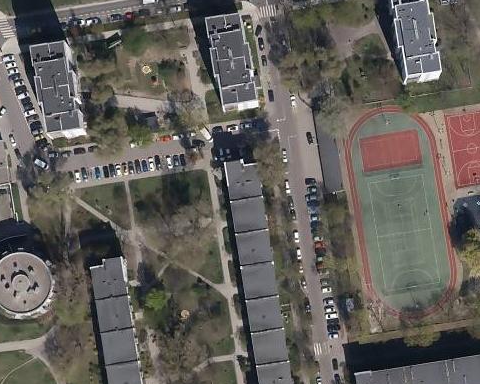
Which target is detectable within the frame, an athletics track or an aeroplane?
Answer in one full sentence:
The image shows an athletics track.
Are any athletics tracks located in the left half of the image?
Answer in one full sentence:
No, in the left half of the image there is no athletics track.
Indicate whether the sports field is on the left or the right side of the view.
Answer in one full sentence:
It is on the right.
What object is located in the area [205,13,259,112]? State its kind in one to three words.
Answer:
building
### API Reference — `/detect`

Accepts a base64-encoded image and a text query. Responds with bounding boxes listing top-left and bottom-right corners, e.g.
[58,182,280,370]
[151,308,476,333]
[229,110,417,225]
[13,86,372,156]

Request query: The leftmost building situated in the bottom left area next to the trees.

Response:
[0,251,54,314]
